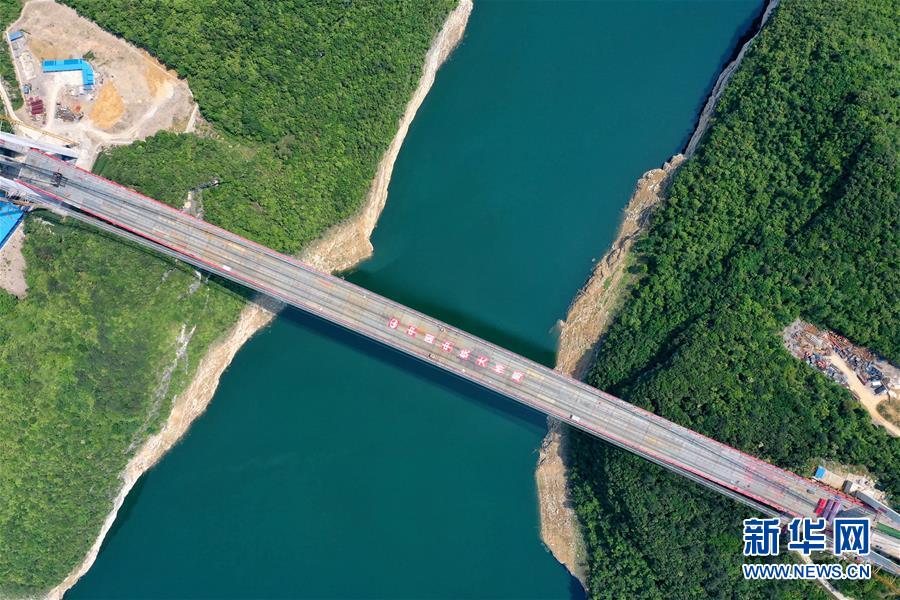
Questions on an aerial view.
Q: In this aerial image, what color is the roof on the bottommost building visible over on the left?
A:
blue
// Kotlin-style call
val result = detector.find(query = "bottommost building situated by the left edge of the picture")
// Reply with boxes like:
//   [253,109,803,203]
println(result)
[0,203,28,251]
